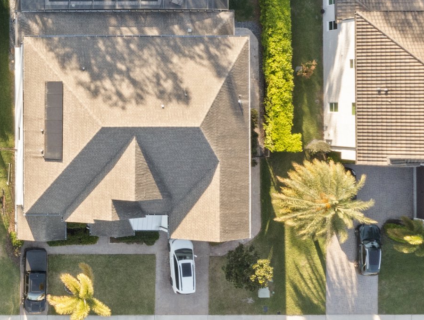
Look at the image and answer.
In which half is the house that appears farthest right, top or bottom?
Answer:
top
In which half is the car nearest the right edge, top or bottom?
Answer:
bottom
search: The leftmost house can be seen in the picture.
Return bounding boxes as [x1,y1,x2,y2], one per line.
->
[15,9,252,241]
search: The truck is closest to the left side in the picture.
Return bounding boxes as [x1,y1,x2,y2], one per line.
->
[21,246,50,313]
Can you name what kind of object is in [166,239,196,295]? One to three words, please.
car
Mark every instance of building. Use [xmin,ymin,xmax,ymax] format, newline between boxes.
[15,9,252,241]
[324,0,424,219]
